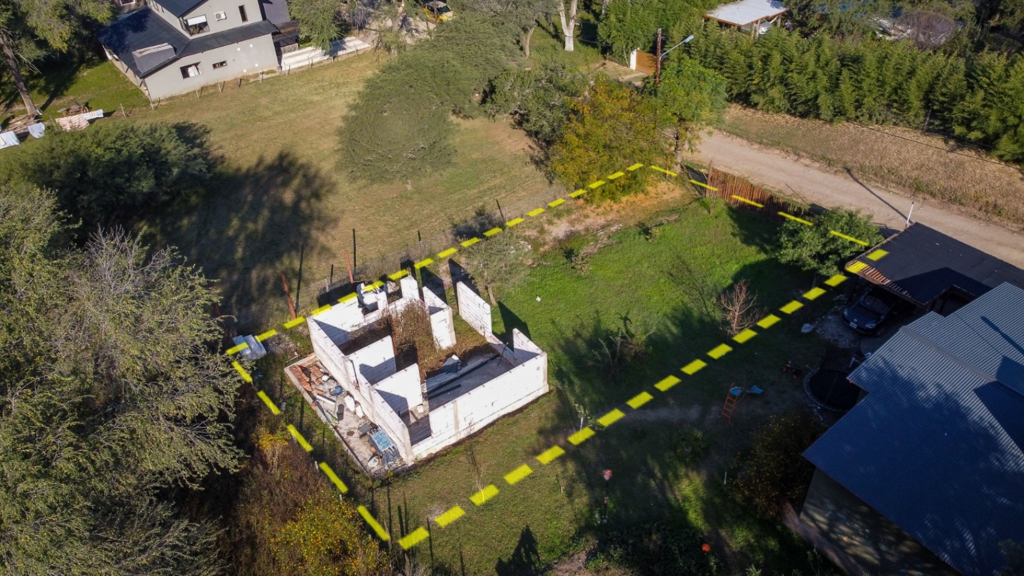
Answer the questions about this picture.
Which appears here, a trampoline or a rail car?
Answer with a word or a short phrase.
trampoline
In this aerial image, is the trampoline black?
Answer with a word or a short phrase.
Yes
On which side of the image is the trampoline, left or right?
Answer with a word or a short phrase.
right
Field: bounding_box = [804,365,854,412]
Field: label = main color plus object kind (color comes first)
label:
black trampoline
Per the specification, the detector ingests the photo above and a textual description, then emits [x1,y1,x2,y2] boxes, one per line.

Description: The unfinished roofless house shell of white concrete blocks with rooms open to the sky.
[312,274,553,466]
